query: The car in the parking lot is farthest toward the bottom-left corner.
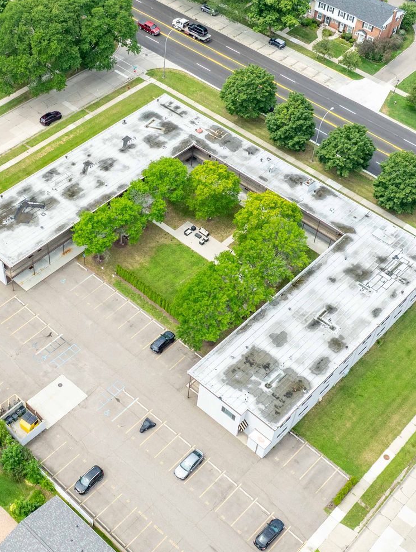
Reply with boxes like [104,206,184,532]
[71,464,106,495]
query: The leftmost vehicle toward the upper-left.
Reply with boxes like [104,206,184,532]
[39,111,63,127]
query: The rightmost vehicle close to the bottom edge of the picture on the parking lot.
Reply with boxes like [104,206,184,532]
[254,517,286,551]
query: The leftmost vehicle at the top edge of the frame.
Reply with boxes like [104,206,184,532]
[140,20,160,36]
